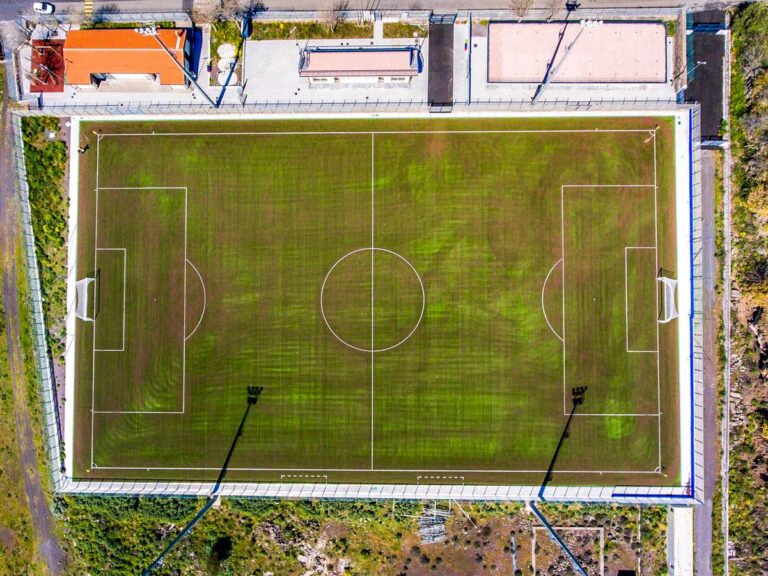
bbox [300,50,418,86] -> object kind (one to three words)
building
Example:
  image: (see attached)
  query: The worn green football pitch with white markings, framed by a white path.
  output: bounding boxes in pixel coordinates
[72,116,681,487]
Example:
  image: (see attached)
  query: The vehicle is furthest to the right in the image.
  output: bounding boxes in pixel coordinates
[32,2,56,15]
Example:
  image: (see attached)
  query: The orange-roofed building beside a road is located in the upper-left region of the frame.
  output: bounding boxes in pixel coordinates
[62,28,194,100]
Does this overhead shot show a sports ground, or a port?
sports ground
